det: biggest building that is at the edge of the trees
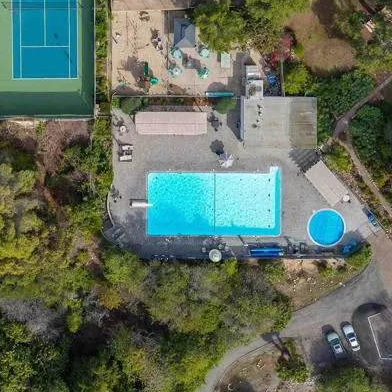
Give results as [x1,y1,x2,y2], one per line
[239,66,317,151]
